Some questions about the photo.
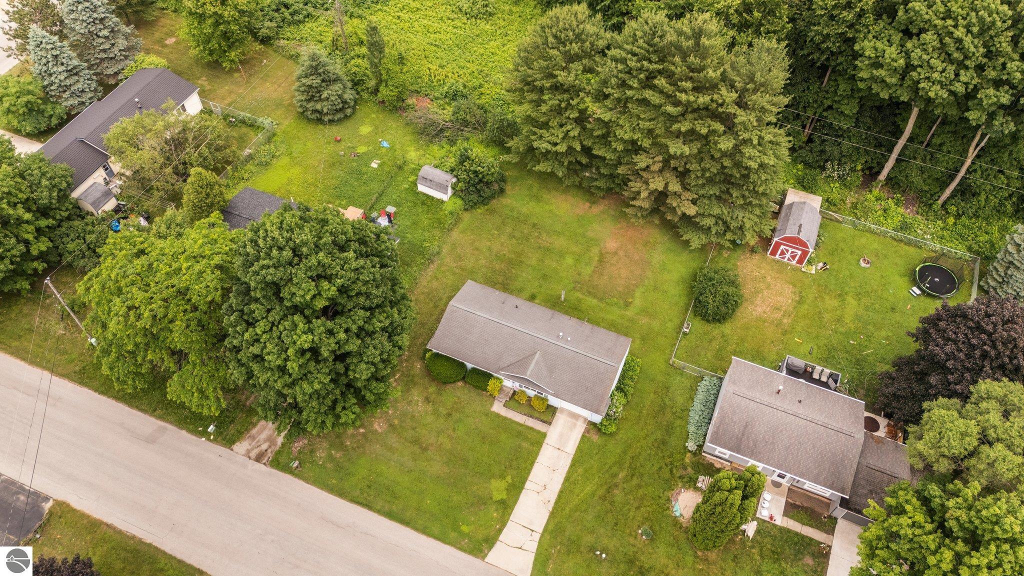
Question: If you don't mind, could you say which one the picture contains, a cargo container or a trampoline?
trampoline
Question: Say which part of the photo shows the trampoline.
right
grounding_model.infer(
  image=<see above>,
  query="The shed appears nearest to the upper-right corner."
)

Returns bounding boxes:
[768,202,820,265]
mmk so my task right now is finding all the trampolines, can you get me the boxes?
[912,250,975,303]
